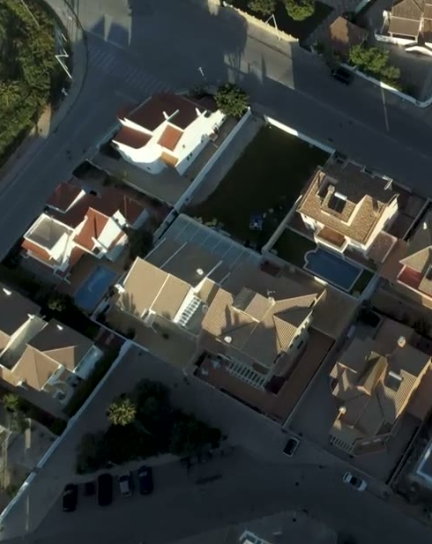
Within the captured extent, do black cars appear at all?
Yes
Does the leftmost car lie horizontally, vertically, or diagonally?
vertically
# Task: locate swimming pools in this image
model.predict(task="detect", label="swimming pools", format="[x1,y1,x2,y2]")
[302,243,366,294]
[71,266,120,312]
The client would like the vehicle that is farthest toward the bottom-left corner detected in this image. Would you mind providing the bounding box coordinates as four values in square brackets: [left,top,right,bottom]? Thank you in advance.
[57,480,77,514]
